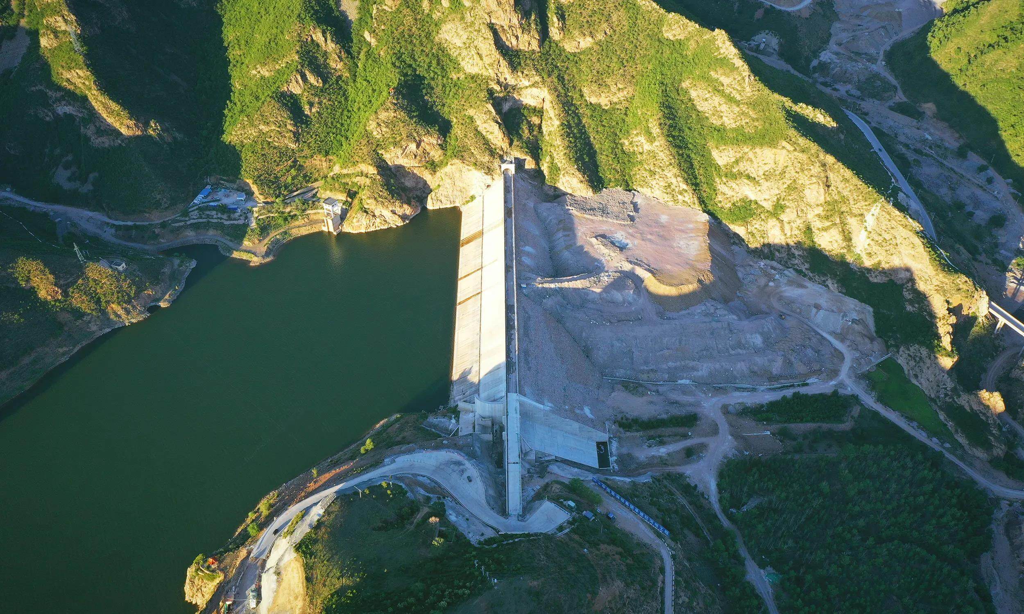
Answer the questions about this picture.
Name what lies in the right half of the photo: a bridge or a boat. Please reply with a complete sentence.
You can see a bridge in the right half of the photo.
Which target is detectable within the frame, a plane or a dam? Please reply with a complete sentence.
Of the two, only a dam appears.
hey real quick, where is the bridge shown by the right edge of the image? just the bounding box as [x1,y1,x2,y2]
[982,302,1024,363]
